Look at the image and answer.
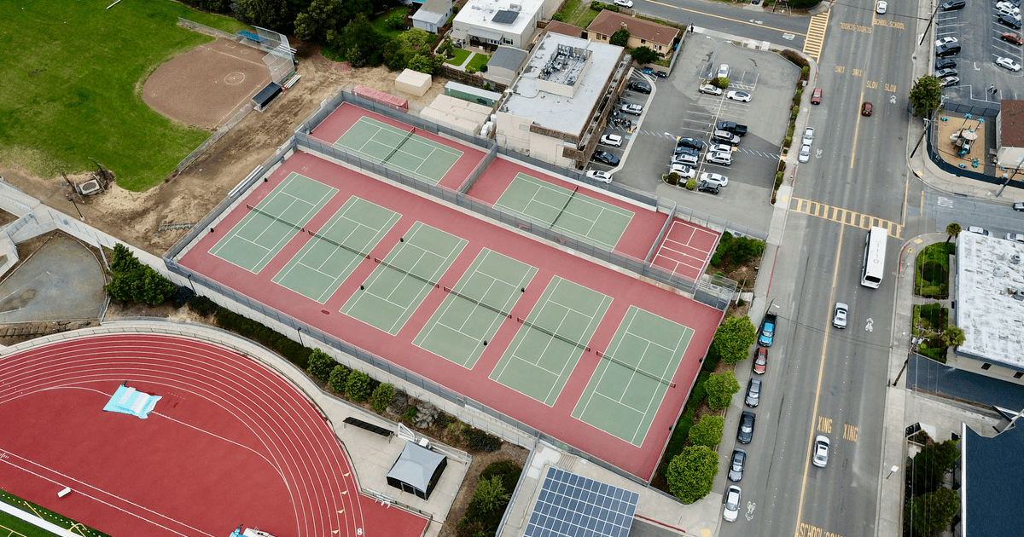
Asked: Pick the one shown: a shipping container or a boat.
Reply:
shipping container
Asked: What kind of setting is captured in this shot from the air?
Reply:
sports ground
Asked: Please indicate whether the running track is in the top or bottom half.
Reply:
bottom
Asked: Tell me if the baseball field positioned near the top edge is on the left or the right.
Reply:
left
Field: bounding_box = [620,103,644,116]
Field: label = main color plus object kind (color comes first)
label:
gray vehicle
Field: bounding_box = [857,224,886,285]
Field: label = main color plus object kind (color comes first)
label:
white bus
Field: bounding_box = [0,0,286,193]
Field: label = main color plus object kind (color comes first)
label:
green baseball field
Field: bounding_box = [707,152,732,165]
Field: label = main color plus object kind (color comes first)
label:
white vehicle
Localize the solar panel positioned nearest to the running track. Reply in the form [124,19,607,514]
[524,468,639,537]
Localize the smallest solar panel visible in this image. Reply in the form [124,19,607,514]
[492,9,519,24]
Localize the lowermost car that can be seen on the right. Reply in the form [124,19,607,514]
[722,485,742,521]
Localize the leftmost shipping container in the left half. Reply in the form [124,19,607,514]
[352,85,409,111]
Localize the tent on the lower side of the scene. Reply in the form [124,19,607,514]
[387,441,447,501]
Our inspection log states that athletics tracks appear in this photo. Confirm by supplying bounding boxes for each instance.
[0,331,429,537]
